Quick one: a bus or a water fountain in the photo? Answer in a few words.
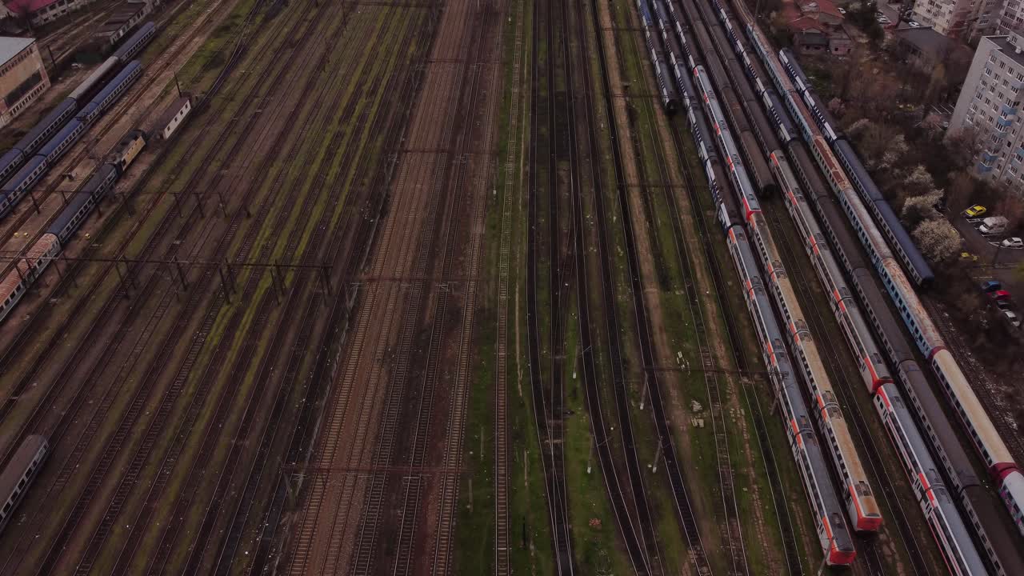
bus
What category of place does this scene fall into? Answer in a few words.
rail yard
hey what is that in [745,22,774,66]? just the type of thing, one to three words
rail car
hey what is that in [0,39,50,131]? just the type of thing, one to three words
building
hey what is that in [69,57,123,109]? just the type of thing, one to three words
rail car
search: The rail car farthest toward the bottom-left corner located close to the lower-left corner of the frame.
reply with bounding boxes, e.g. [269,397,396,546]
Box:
[0,434,58,549]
